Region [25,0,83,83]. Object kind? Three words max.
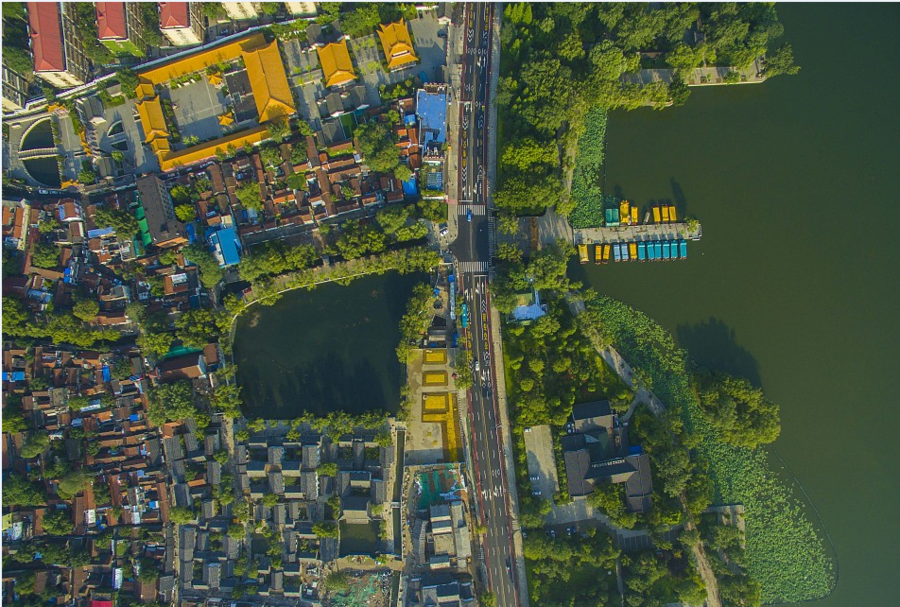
building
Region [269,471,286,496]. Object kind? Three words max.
house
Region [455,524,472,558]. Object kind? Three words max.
shed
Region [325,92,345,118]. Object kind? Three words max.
house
